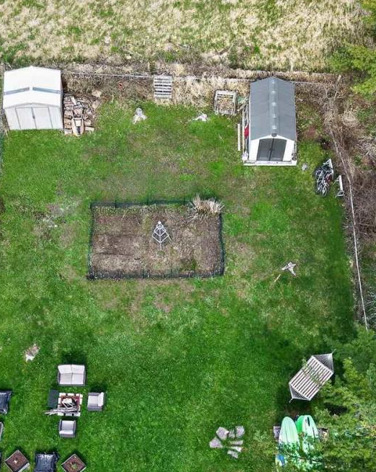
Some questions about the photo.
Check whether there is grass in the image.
Yes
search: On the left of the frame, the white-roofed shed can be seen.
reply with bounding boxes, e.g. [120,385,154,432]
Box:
[1,66,65,131]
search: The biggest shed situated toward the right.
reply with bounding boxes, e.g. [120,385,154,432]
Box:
[244,75,301,166]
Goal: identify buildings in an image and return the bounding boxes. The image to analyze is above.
[244,75,301,166]
[1,66,65,131]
